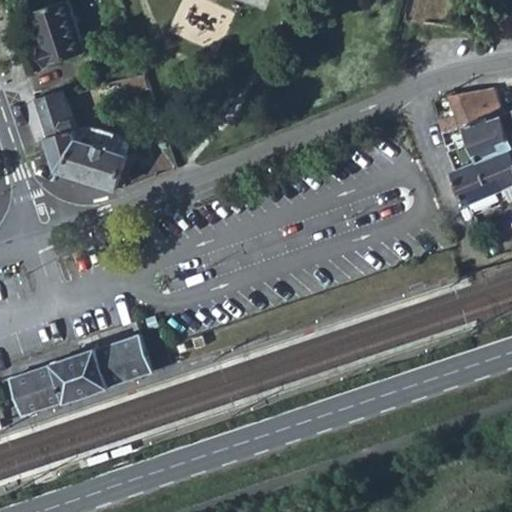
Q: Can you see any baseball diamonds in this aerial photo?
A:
No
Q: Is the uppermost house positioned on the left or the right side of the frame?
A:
left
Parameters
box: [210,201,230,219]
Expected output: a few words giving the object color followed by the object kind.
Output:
white car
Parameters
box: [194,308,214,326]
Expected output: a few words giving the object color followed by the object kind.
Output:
white car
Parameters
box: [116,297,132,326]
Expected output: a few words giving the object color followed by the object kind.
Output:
white vehicle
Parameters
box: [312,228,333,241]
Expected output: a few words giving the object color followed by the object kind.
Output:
white vehicle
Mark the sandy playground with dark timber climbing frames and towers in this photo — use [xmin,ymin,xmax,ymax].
[170,0,235,47]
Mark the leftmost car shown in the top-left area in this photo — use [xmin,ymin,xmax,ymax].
[10,102,24,125]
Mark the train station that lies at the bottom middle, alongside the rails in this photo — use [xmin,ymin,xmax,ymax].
[0,278,477,493]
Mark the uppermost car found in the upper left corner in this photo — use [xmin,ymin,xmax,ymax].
[37,70,58,84]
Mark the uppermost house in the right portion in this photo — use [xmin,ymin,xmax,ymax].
[438,87,502,132]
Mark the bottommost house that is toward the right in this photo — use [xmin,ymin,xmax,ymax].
[450,150,512,213]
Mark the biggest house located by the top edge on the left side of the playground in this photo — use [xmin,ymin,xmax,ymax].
[33,1,82,70]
